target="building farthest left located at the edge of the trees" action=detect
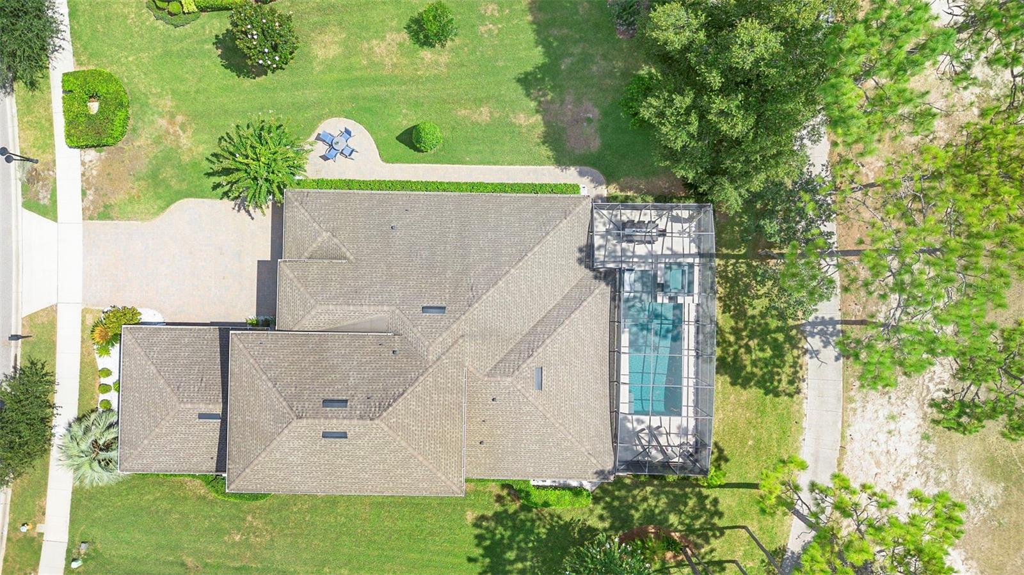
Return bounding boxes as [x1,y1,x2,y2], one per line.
[117,189,618,498]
